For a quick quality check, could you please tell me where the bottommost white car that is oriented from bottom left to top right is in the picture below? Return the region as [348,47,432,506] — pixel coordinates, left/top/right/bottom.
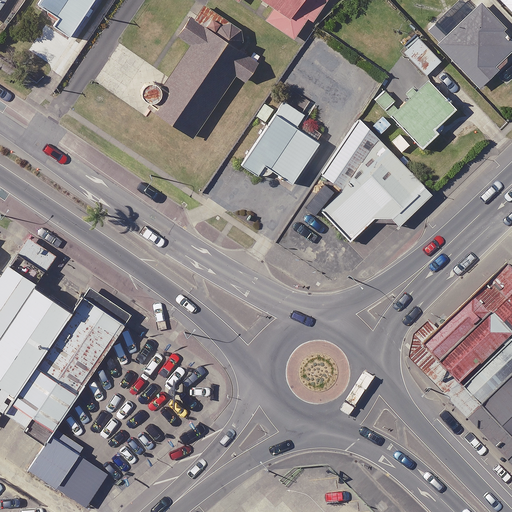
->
[186,458,208,480]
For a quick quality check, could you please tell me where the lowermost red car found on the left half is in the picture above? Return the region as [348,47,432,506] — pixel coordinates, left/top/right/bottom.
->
[169,445,193,461]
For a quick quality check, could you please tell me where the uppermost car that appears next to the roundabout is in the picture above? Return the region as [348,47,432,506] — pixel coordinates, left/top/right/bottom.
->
[289,310,316,328]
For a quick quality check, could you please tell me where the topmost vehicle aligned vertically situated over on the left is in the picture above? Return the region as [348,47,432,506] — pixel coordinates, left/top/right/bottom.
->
[154,303,167,330]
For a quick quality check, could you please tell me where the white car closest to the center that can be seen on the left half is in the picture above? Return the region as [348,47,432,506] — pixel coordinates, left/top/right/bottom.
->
[176,293,200,314]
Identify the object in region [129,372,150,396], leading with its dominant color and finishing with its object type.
red truck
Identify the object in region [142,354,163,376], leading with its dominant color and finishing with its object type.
white vehicle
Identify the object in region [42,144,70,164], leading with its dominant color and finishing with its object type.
red car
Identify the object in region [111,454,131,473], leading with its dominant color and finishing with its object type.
blue car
